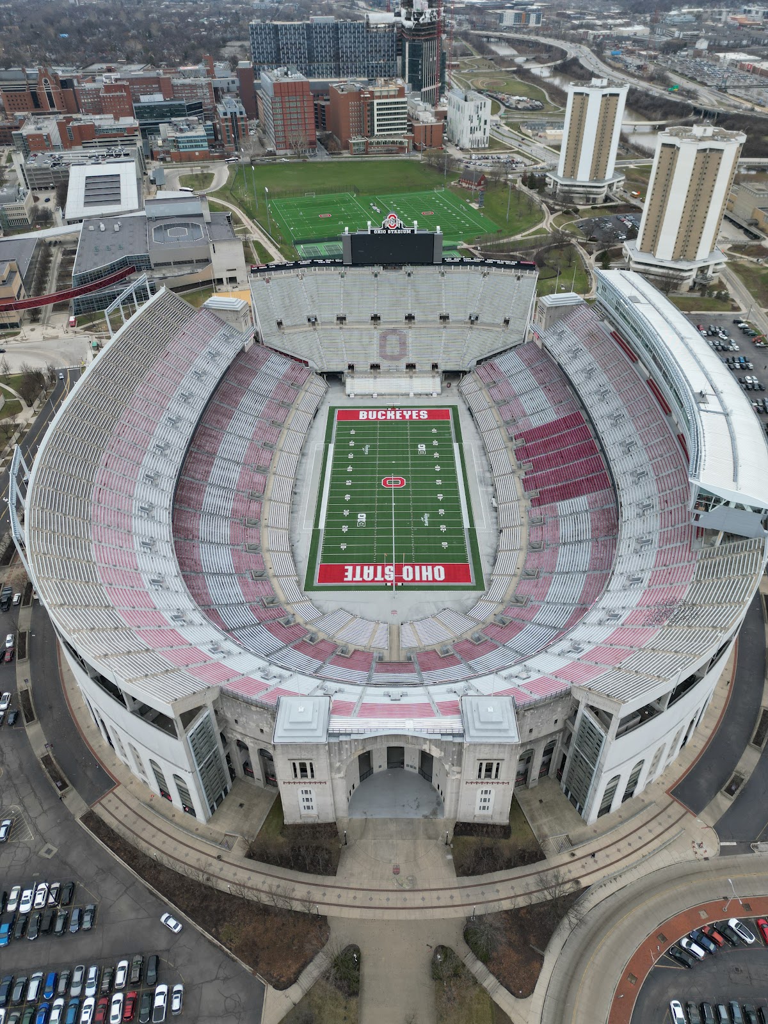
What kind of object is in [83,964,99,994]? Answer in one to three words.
car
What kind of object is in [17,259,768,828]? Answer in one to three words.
stadium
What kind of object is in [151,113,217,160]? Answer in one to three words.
building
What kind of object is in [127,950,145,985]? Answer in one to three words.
vehicle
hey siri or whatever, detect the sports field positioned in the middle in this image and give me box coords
[290,405,499,590]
